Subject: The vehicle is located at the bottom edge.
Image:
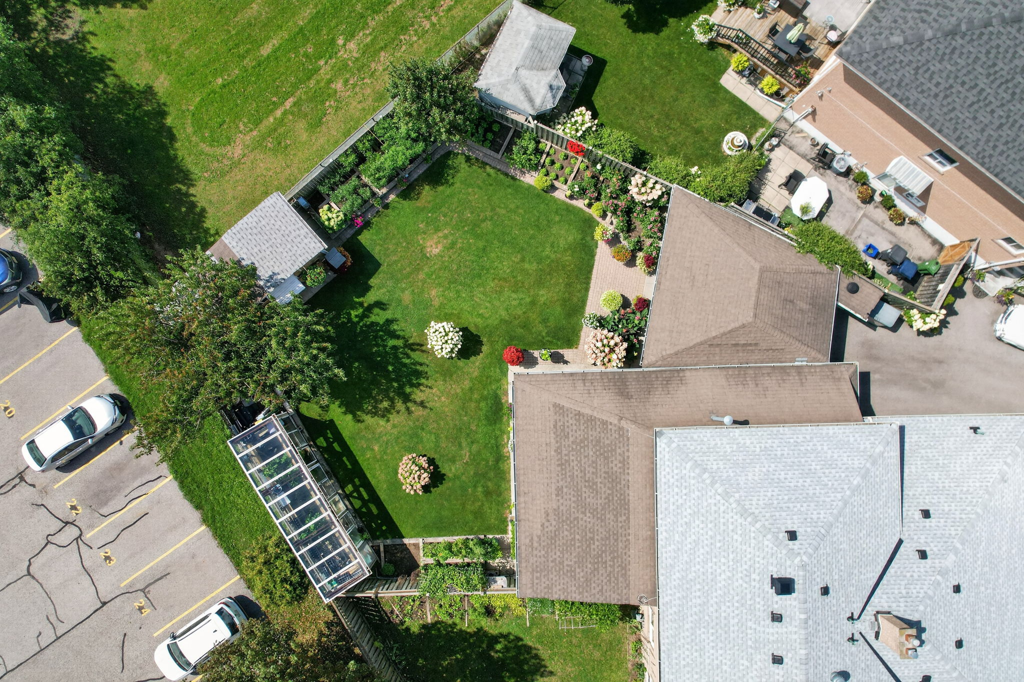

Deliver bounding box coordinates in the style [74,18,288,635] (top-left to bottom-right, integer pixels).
[149,589,258,682]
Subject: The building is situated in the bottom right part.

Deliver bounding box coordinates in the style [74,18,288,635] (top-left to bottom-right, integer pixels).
[509,361,1024,682]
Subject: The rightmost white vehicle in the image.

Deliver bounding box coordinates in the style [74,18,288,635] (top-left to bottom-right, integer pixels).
[993,308,1024,359]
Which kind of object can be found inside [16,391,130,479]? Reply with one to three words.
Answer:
car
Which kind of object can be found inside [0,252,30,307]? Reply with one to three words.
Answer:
car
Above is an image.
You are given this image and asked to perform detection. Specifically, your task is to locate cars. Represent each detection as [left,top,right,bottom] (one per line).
[149,589,258,682]
[993,308,1024,359]
[0,252,30,307]
[16,391,130,479]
